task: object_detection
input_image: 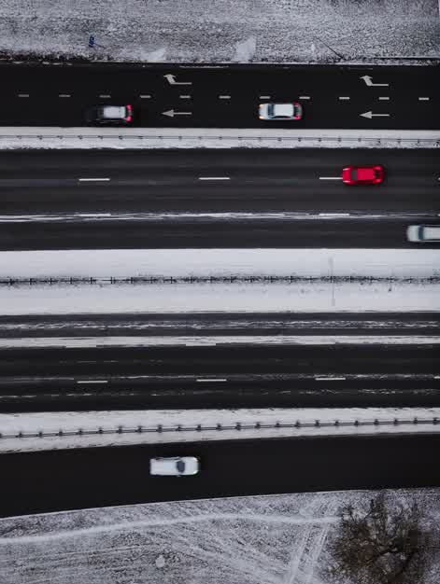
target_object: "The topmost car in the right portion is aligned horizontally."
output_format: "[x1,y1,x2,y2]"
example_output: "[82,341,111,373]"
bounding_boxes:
[257,100,302,121]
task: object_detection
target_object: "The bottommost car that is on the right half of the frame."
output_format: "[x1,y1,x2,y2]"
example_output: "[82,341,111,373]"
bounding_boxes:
[405,223,440,245]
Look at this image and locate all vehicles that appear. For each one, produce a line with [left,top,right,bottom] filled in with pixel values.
[405,223,440,245]
[341,164,383,187]
[85,104,132,126]
[257,100,302,121]
[148,456,201,478]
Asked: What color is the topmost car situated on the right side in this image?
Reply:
white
